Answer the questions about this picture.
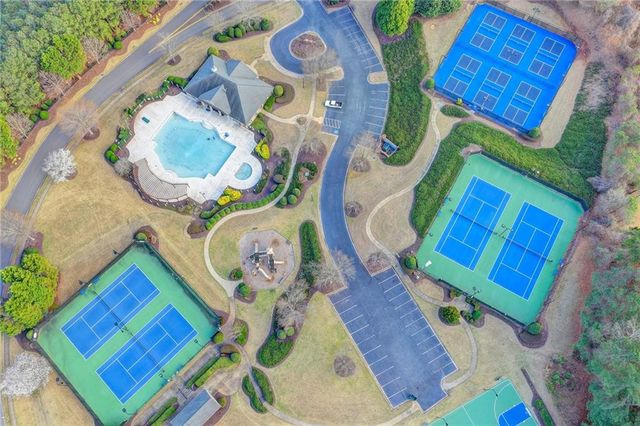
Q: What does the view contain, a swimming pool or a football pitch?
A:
swimming pool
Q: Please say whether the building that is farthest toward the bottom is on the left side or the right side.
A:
left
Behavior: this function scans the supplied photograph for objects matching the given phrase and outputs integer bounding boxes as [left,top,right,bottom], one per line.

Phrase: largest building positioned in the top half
[184,55,274,127]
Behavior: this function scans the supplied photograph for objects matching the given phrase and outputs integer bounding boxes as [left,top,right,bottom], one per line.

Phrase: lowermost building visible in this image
[165,389,220,426]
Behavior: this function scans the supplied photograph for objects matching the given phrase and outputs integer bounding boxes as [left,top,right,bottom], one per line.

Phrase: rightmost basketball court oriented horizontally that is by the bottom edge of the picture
[422,377,538,426]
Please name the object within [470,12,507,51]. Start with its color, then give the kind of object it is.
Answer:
blue sports court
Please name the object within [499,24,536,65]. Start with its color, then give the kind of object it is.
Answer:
blue sports court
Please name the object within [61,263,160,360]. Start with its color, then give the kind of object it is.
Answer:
blue tennis court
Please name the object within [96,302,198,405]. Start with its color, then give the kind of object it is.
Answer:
blue tennis court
